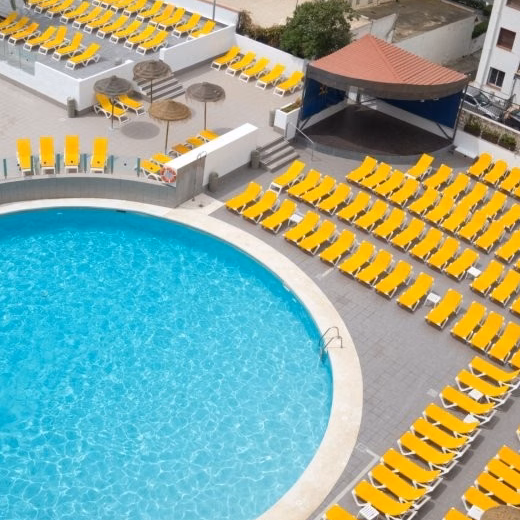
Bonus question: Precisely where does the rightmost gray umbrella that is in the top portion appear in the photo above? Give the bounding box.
[187,81,229,130]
